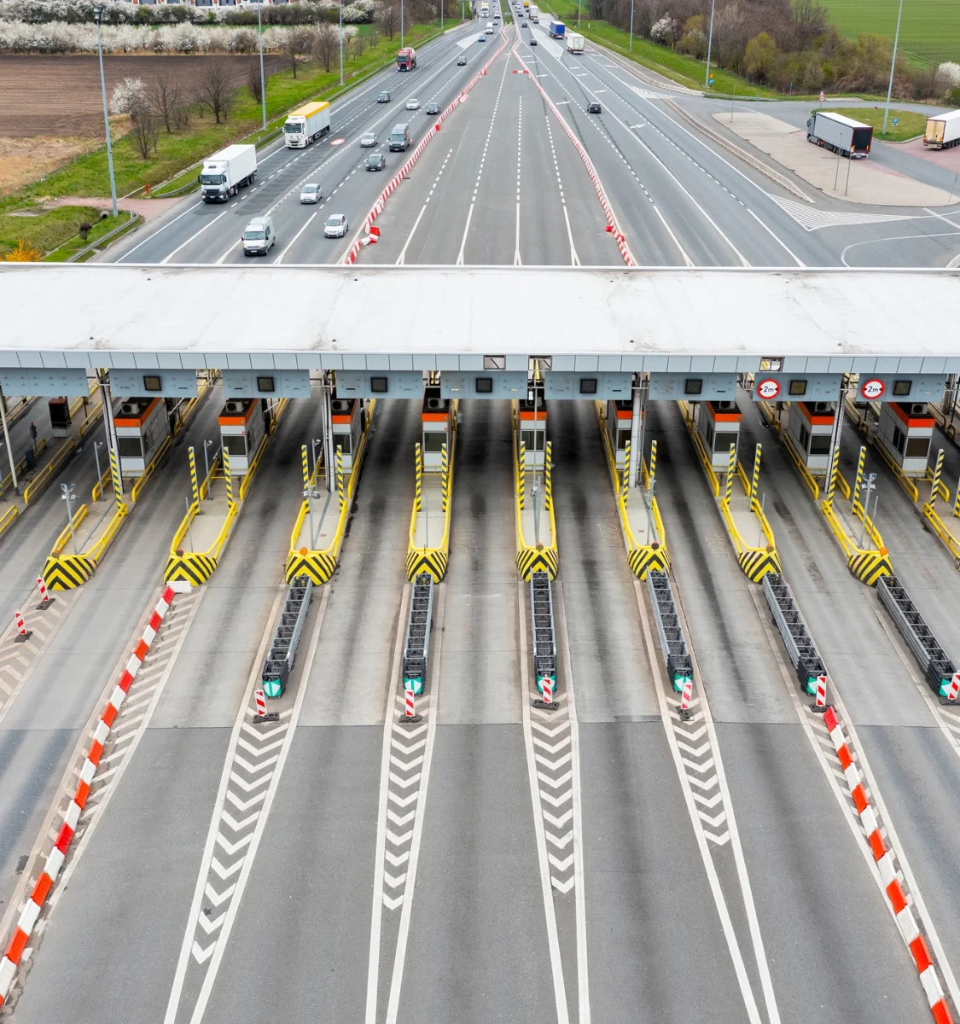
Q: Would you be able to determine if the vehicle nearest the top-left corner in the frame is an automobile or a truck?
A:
truck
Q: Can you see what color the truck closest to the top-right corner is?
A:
white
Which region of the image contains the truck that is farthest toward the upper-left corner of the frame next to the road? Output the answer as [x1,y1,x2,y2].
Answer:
[198,148,248,200]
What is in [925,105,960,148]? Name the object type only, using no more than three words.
truck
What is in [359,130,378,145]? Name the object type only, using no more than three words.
car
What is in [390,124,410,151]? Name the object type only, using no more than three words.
vehicle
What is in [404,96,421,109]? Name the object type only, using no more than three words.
vehicle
